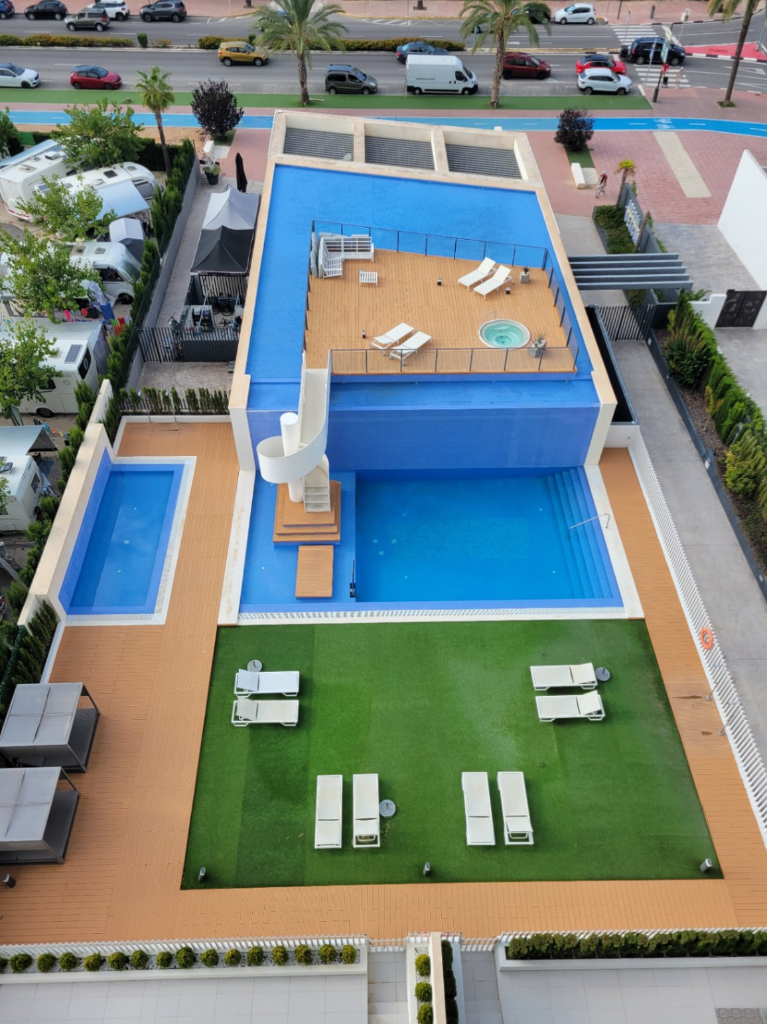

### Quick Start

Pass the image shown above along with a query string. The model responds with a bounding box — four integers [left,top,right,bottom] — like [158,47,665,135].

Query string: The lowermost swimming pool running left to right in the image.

[218,467,645,625]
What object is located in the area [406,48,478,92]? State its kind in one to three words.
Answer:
van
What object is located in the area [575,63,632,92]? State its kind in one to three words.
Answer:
car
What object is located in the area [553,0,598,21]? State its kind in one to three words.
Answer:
car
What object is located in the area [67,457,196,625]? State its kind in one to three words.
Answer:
swimming pool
